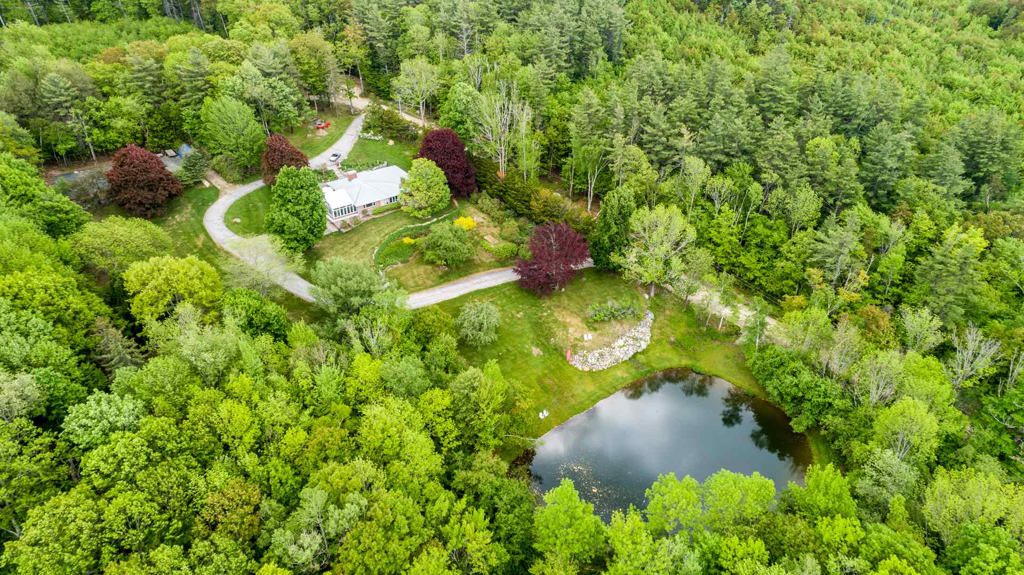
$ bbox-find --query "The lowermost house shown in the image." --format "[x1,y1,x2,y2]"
[322,165,410,222]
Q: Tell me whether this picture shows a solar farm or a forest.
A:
forest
